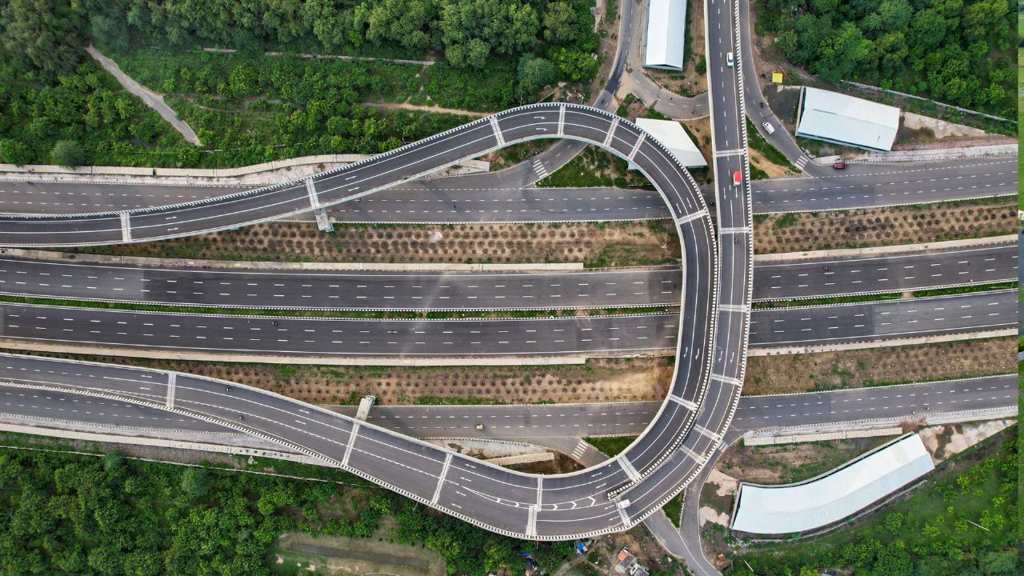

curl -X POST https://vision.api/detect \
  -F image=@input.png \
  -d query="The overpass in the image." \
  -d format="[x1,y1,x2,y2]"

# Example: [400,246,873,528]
[0,0,754,542]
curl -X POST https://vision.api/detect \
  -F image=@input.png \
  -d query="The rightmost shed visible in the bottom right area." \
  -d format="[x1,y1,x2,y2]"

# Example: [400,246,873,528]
[726,430,934,534]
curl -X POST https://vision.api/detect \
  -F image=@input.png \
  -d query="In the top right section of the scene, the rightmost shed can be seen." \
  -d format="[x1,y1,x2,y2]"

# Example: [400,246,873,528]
[792,87,900,154]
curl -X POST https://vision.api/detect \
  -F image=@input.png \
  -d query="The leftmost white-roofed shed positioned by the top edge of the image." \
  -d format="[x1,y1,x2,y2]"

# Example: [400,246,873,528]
[642,0,686,74]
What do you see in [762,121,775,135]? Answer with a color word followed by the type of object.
white vehicle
